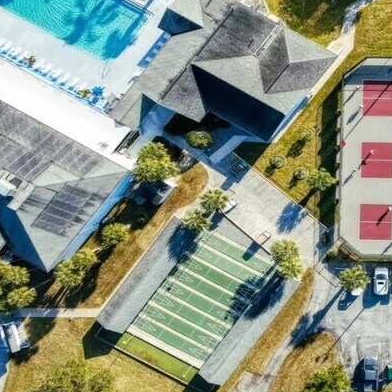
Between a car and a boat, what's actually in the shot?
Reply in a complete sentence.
It is a car that can be seen here.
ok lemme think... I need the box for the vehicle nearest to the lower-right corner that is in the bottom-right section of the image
[361,354,379,392]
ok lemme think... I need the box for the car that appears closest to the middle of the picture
[146,183,171,208]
